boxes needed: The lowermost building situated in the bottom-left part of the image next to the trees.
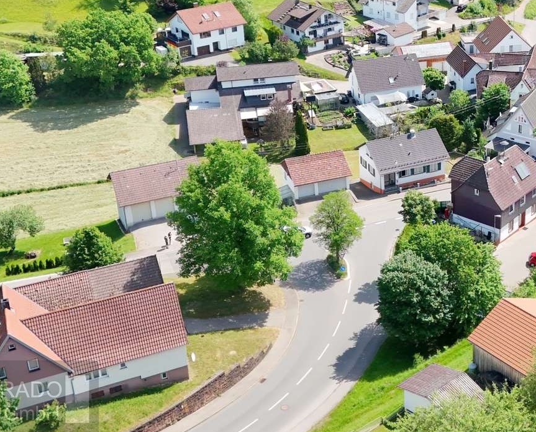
[0,256,191,432]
